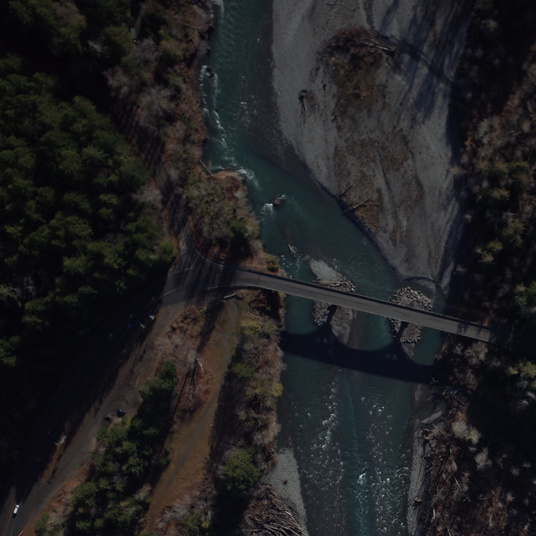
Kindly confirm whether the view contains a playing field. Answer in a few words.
No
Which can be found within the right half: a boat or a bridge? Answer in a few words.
bridge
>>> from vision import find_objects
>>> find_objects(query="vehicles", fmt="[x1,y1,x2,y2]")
[13,504,20,514]
[118,408,125,416]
